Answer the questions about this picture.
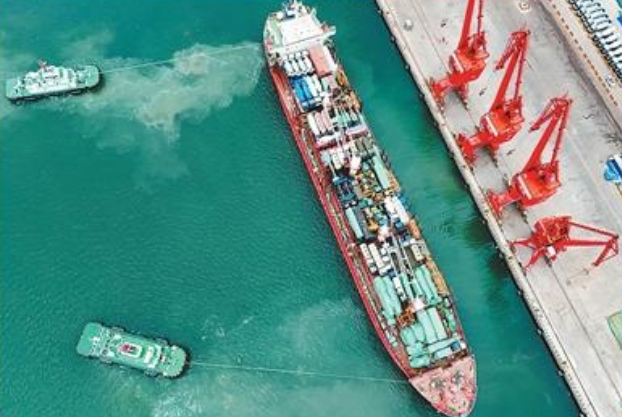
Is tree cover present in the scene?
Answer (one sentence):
No, tree cover can't be seen anywhere here.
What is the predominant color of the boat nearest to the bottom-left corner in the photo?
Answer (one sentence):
The boat nearest to the bottom-left corner looks green in the image.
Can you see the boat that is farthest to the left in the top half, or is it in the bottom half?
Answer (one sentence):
The boat that is farthest to the left sits in the top half of the picture.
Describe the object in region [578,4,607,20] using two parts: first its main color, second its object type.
white vehicle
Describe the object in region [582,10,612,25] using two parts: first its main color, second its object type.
white vehicle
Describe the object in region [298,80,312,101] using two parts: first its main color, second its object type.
blue vehicle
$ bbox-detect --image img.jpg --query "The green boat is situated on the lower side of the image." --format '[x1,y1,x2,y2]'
[77,320,190,378]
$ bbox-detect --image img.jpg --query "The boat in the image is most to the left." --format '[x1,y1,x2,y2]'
[6,63,101,106]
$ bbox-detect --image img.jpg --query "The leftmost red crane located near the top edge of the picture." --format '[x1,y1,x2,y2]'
[425,0,483,104]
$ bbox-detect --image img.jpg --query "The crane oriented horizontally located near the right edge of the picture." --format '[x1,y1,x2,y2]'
[507,219,622,274]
